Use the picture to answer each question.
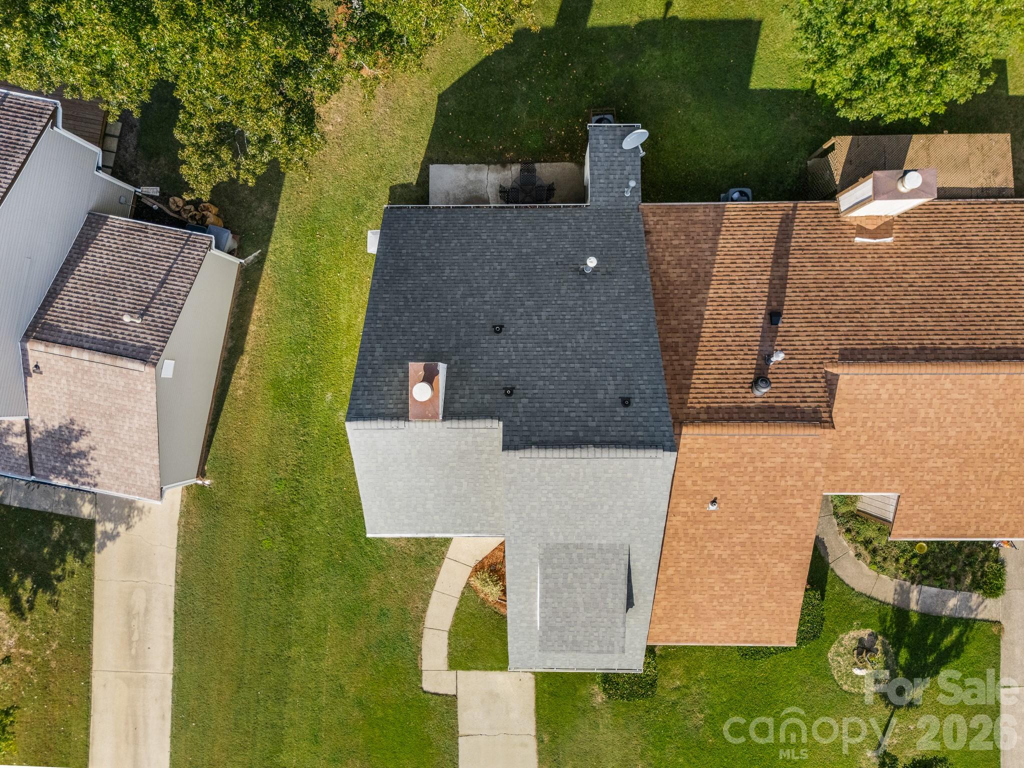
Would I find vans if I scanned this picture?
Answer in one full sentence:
No, the picture doesn't show any van.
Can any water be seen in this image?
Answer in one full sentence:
No, there is no water in the image.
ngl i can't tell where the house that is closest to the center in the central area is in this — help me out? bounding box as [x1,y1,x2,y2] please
[347,125,678,673]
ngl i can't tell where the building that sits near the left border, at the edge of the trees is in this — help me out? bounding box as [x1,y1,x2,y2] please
[0,93,248,505]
